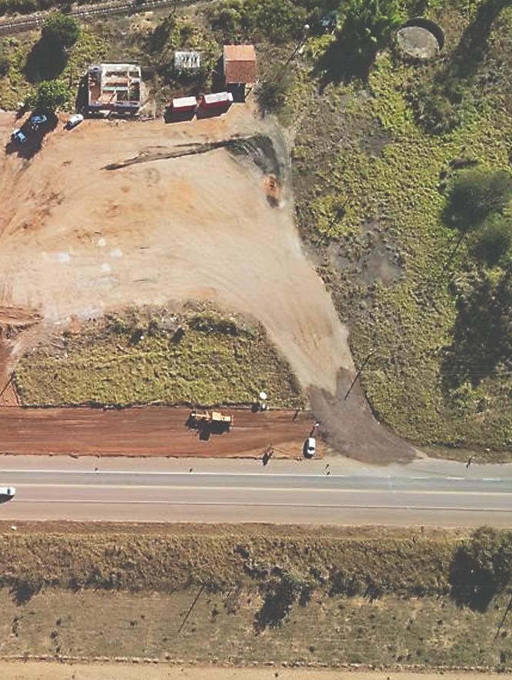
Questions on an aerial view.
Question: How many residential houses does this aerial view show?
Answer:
2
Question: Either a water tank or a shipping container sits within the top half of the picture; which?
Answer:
water tank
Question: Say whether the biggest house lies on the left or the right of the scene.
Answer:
left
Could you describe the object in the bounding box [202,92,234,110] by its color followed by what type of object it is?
white vehicle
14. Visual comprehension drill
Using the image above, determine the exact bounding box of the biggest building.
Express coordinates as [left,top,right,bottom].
[88,64,141,111]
